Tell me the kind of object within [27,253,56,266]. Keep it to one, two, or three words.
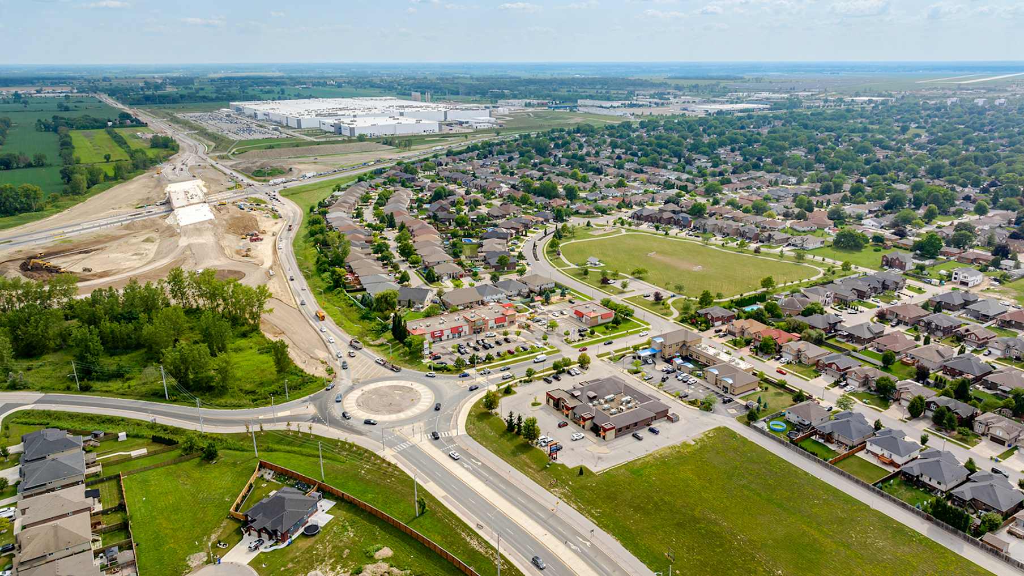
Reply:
vehicle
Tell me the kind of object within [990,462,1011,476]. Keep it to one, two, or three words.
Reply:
vehicle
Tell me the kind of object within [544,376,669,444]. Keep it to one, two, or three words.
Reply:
building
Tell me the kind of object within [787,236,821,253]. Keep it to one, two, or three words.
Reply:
house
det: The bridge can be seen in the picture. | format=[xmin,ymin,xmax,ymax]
[165,179,215,227]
